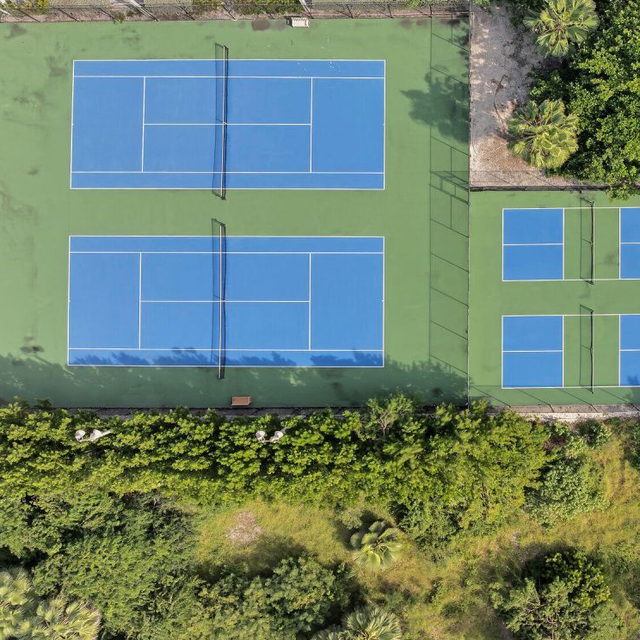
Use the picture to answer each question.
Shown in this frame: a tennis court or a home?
tennis court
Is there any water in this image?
No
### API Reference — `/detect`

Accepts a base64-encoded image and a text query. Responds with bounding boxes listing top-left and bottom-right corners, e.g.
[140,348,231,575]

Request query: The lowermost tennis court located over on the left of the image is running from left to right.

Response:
[67,236,384,367]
